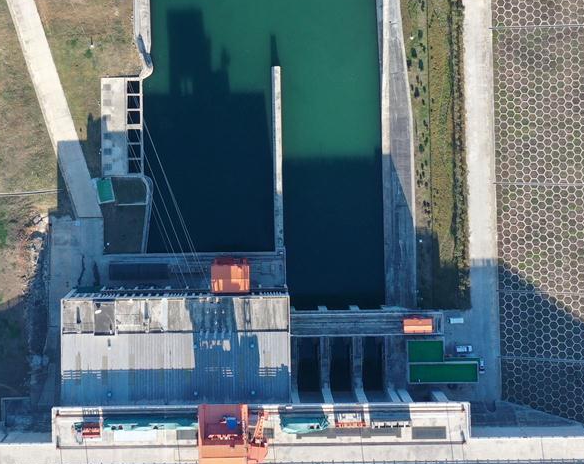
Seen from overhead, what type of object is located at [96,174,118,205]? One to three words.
shed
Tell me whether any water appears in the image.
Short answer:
Yes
